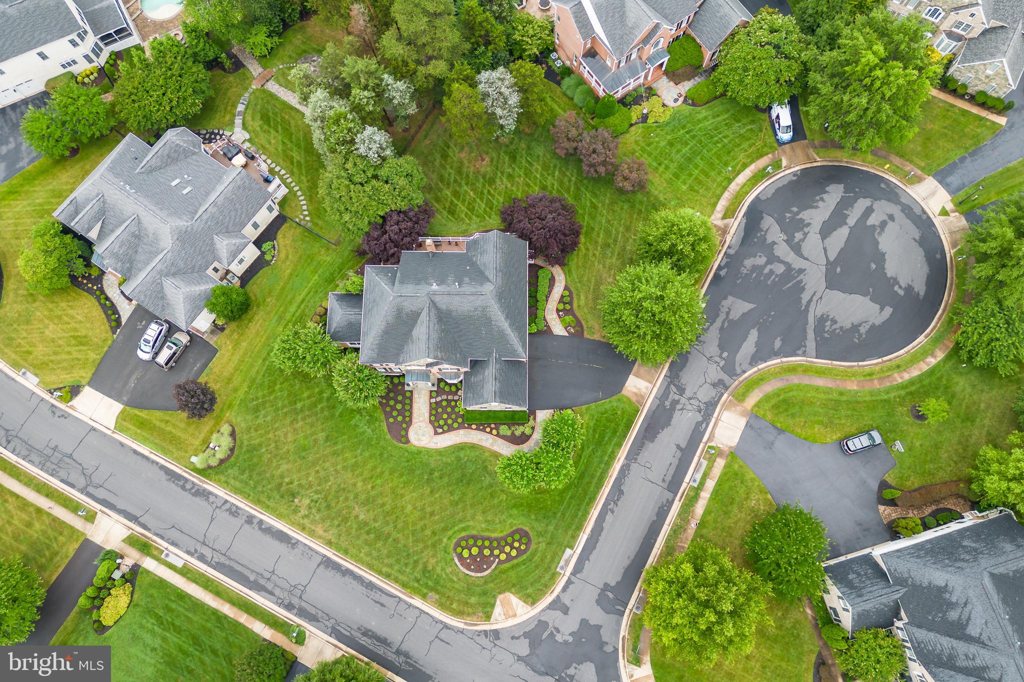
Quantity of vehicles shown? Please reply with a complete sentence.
The photo contains 4 vehicles.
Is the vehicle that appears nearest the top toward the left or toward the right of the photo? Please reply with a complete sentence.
The vehicle that appears nearest the top appears in the right half of the scene.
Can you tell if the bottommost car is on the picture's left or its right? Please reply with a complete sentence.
The bottommost car is on the right side of the image.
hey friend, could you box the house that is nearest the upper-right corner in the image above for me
[873,0,1024,103]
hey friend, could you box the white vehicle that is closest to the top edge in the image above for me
[769,101,791,141]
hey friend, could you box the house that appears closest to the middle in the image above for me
[325,230,535,410]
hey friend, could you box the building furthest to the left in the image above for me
[0,0,139,98]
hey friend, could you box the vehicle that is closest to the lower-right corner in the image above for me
[838,431,880,455]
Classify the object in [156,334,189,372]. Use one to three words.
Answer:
car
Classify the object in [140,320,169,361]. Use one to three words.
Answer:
car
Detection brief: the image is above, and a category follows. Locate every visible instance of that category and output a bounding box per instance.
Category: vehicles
[156,334,189,372]
[769,101,791,141]
[140,320,169,361]
[838,431,880,455]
